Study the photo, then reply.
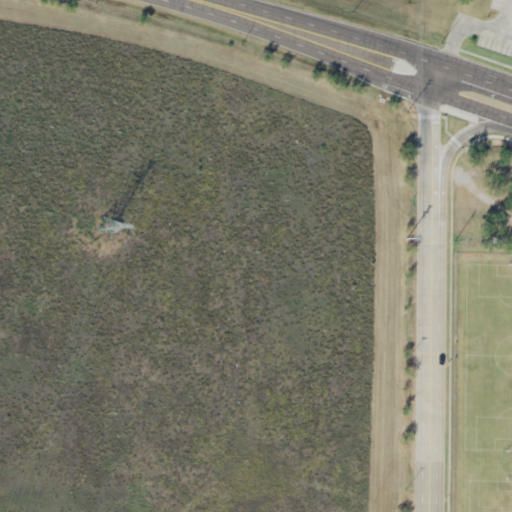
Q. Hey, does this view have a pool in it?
No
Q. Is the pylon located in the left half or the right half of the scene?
left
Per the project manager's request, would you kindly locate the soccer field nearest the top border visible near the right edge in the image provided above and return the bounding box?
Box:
[462,262,512,454]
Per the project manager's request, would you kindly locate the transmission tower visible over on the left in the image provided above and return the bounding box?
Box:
[98,216,136,236]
